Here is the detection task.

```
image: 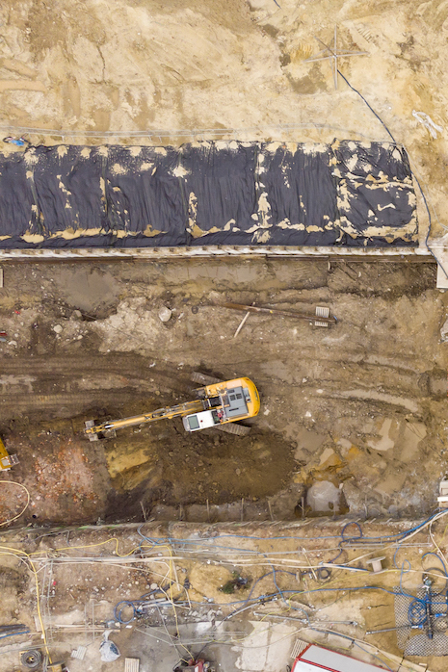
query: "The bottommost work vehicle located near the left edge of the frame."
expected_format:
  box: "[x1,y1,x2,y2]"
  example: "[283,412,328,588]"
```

[0,435,27,474]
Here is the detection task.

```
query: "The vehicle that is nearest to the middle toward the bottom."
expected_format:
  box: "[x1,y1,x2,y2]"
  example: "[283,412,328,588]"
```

[80,374,258,443]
